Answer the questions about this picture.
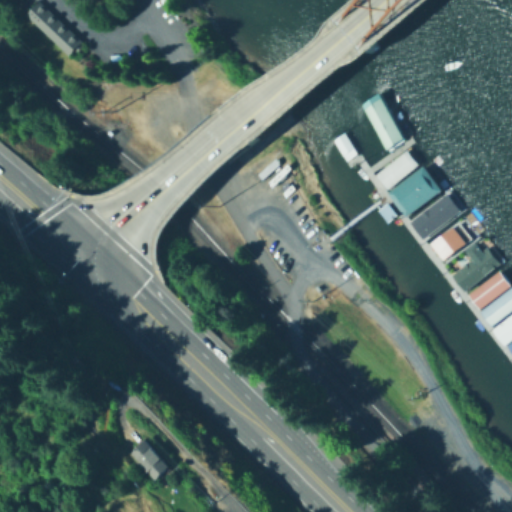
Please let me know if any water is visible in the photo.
Yes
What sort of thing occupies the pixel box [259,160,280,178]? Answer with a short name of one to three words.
camper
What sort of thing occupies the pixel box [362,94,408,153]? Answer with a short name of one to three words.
house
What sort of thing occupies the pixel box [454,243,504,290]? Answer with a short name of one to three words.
house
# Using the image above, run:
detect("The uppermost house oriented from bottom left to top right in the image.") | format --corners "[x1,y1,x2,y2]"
[377,150,420,190]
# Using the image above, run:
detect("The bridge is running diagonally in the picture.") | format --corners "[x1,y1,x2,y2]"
[62,0,429,290]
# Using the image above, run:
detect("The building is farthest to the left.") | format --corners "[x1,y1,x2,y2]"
[32,0,88,58]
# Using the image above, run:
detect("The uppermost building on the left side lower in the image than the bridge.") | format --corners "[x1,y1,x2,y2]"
[134,437,174,480]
